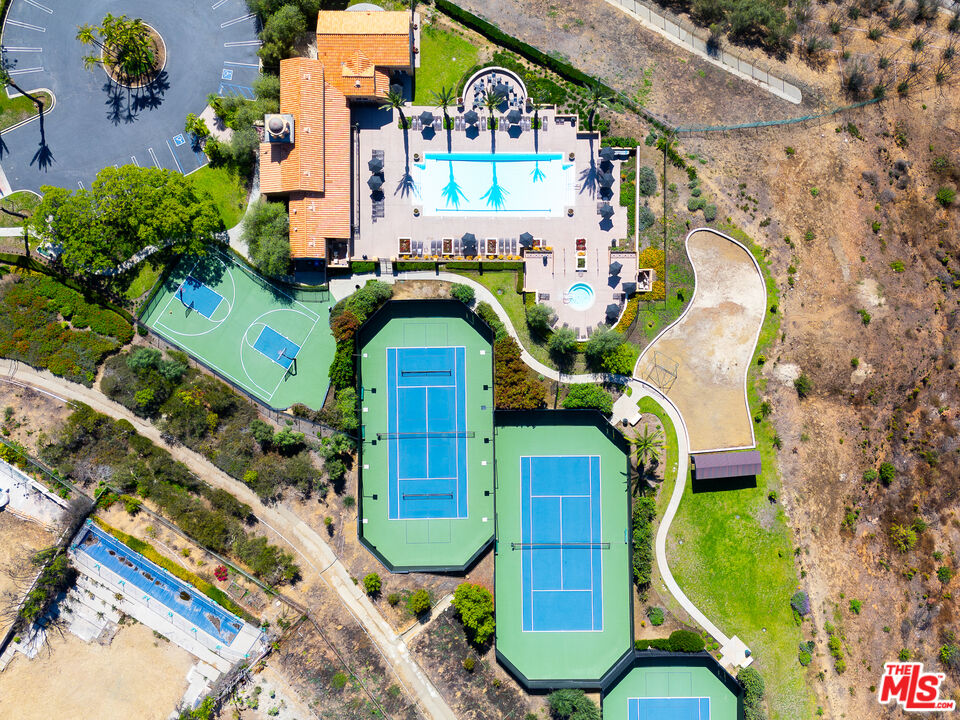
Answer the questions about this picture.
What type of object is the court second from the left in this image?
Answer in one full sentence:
The court second from the left appears to be a tennis court.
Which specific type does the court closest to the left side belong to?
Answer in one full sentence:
The court closest to the left side is a basketball court.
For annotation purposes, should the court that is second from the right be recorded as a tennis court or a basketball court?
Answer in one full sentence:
The court that is second from the right can be classified as a tennis court.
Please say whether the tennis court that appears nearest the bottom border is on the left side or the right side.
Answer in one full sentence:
The tennis court that appears nearest the bottom border sits on the right side.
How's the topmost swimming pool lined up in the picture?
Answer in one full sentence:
The topmost swimming pool has been laid out horizontally relative to the frame.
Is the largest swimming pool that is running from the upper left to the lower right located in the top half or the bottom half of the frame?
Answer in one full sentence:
You can find the largest swimming pool that is running from the upper left to the lower right in the bottom half.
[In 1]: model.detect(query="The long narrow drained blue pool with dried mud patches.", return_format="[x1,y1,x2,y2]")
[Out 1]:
[72,526,245,648]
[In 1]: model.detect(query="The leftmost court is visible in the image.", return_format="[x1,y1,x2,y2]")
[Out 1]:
[141,249,337,411]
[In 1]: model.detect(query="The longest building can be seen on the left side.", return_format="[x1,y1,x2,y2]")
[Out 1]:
[259,10,412,270]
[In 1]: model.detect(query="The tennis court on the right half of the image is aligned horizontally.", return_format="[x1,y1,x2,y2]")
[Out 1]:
[602,668,738,720]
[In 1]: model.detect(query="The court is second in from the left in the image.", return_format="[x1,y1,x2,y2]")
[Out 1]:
[360,302,494,567]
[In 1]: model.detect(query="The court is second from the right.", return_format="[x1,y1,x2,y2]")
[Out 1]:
[496,412,631,680]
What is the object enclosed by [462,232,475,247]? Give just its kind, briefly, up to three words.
umbrella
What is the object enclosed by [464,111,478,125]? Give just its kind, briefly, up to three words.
umbrella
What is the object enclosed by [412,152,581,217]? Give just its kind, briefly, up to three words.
swimming pool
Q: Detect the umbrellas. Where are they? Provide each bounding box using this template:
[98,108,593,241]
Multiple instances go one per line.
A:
[600,173,615,187]
[622,281,637,295]
[608,262,622,275]
[462,232,475,247]
[419,112,433,126]
[464,111,478,125]
[368,158,382,172]
[368,175,382,190]
[518,232,533,246]
[601,146,613,160]
[507,109,520,124]
[606,305,620,318]
[492,82,510,98]
[601,203,614,218]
